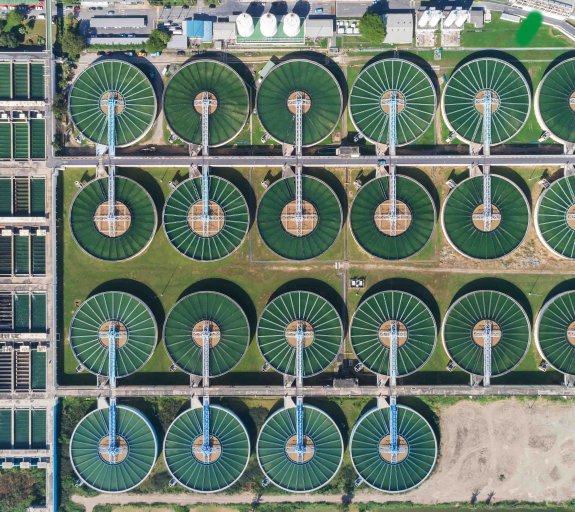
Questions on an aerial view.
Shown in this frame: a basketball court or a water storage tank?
water storage tank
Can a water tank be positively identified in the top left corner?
Yes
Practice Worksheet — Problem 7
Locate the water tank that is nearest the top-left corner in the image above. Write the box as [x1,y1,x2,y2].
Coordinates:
[69,58,158,156]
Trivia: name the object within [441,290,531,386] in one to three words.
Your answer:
water tank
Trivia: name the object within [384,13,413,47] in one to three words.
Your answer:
building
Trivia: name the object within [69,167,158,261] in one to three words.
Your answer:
water tank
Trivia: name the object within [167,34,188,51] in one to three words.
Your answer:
building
